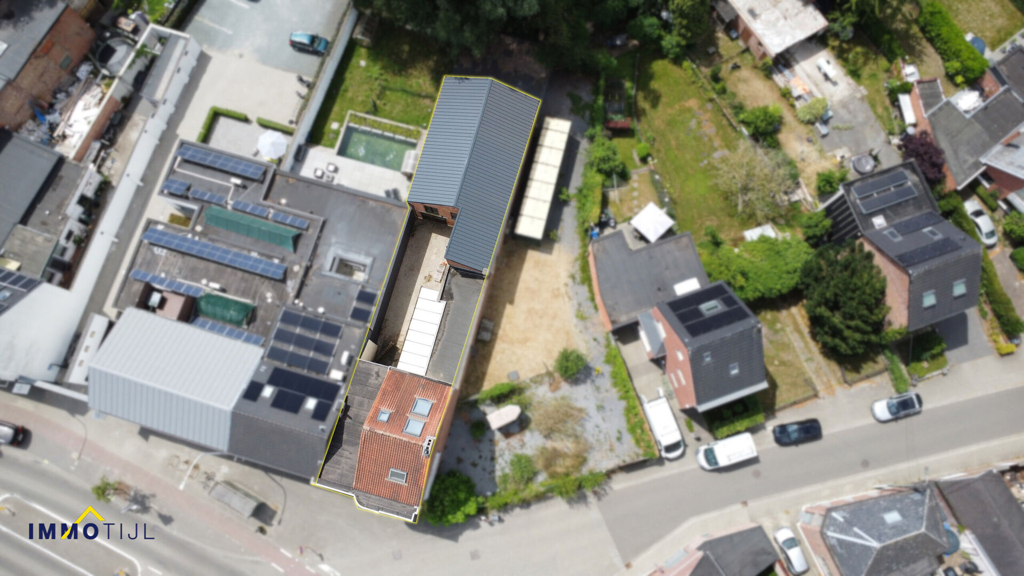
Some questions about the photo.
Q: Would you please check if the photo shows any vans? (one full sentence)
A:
Yes, the picture does show a van.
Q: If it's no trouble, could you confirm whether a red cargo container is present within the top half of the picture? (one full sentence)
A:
No, the scene shows no red cargo container within the top half of the picture.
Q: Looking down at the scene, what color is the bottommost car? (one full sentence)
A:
In this view, the bottommost car is white.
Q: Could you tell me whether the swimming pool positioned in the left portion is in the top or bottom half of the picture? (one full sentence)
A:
Seen from above, the swimming pool positioned in the left portion lies in the top half of the view.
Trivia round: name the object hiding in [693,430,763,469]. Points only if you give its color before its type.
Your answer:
white van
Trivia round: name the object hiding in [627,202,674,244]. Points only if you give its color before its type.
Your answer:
white gazebo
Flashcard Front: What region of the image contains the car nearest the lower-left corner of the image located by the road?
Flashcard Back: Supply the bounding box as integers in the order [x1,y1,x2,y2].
[0,420,27,447]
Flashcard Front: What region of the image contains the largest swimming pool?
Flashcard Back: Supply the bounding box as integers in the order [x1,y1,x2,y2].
[335,109,429,172]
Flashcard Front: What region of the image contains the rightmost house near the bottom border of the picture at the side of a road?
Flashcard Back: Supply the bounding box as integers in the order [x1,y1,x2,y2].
[905,467,1024,576]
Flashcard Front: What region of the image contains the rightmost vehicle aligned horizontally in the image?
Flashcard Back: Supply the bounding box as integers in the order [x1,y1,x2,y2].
[869,392,926,422]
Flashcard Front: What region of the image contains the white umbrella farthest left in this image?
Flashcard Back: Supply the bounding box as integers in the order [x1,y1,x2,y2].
[248,120,280,150]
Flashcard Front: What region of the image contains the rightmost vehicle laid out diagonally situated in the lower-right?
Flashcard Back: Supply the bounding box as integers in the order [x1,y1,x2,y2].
[769,522,814,576]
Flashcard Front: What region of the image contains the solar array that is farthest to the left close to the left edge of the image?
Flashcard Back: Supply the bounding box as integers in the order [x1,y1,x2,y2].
[0,269,38,289]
